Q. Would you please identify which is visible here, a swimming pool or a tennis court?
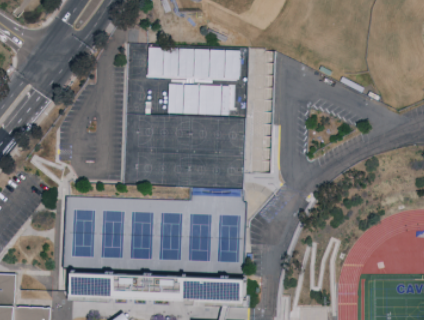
tennis court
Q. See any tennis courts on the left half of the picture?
Yes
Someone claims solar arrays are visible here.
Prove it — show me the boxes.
[184,282,238,300]
[72,278,110,296]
